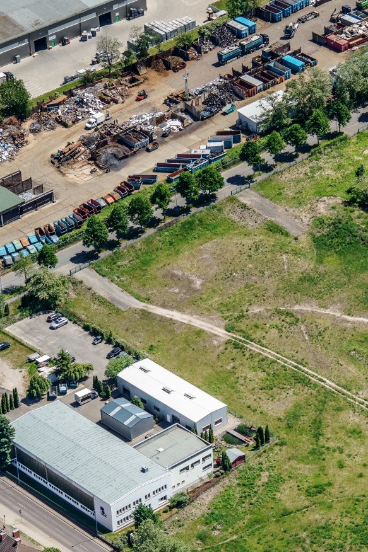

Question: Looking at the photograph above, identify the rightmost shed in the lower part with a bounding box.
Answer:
[219,446,245,470]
